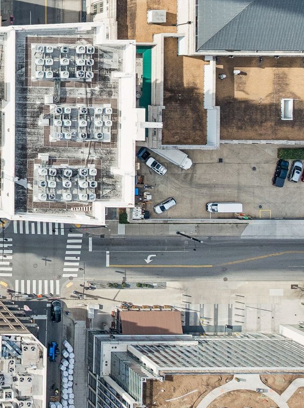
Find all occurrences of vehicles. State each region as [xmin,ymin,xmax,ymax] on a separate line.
[272,159,287,186]
[143,148,192,174]
[286,160,302,183]
[50,299,62,323]
[144,157,167,176]
[46,336,57,359]
[152,195,176,214]
[209,202,241,212]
